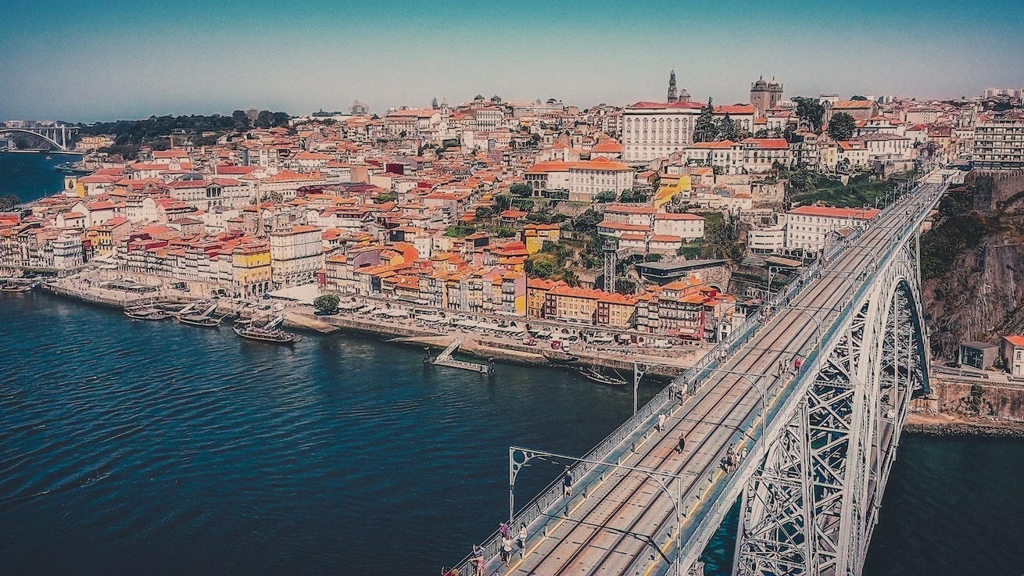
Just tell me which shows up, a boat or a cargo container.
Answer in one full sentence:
Looking from above, you can make out a boat.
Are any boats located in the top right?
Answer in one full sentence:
No, the scene shows no boat in the top right.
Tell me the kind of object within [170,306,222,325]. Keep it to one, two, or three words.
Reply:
boat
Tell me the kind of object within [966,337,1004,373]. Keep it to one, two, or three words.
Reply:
building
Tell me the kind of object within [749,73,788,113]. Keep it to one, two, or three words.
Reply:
building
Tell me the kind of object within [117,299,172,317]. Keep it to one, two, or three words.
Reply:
boat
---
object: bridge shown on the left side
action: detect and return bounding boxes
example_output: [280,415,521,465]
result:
[0,123,82,151]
